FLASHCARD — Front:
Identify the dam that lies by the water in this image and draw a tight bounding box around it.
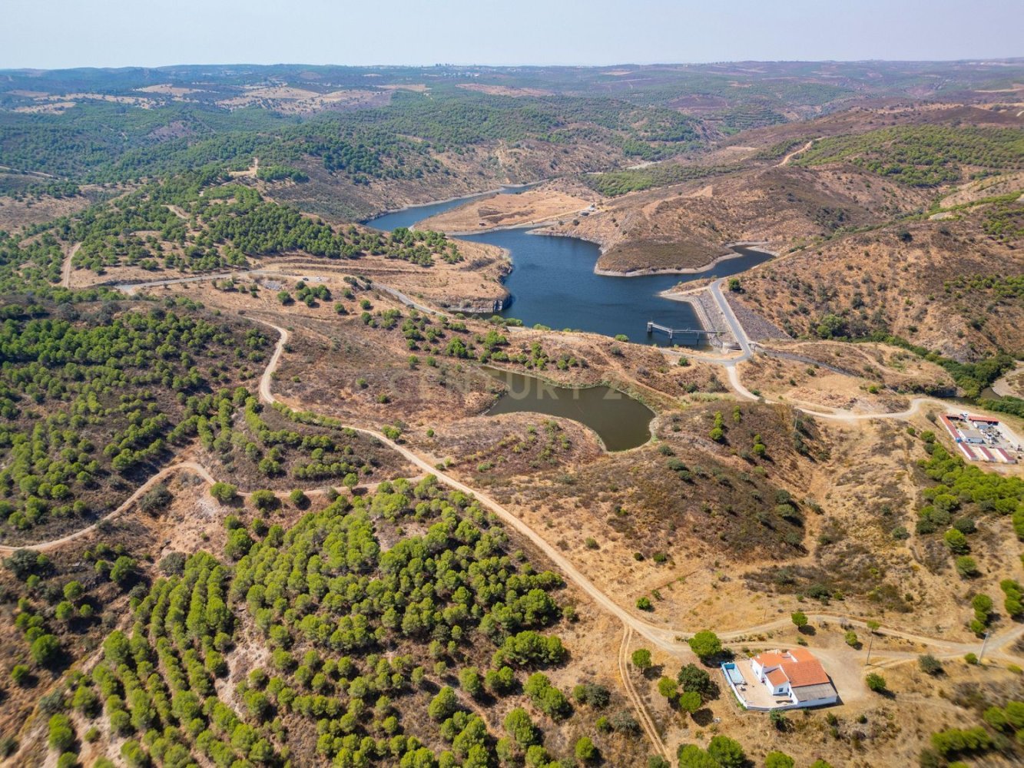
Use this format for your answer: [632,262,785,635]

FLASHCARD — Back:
[687,283,779,364]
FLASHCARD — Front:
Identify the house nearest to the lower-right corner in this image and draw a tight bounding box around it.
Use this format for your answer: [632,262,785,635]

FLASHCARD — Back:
[752,647,839,709]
